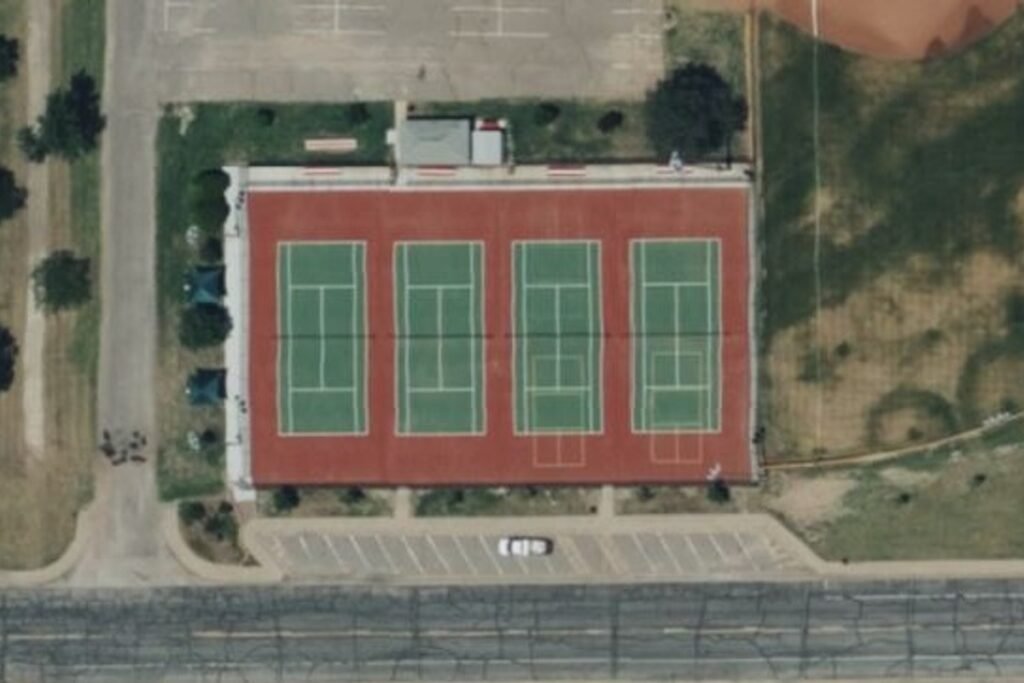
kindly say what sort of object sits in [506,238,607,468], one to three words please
tennis court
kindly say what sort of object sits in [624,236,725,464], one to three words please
tennis court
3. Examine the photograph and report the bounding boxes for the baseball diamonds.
[757,0,1024,468]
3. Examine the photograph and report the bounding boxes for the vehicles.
[500,538,552,557]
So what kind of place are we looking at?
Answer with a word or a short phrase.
sports ground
